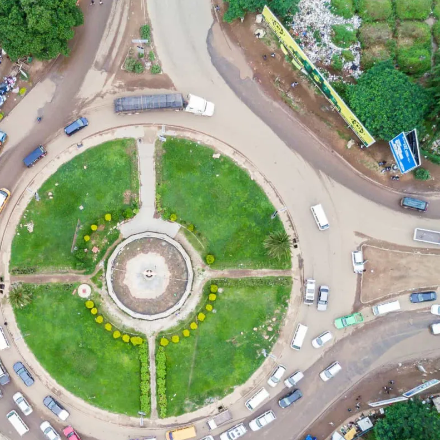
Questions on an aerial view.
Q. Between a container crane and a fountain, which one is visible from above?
fountain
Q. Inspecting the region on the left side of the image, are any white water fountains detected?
Yes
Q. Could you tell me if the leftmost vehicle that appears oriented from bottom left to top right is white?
No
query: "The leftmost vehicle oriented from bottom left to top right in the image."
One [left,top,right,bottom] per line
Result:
[22,145,48,169]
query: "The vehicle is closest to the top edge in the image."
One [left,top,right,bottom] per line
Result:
[116,93,215,115]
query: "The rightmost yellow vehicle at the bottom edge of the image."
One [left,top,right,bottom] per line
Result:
[166,425,197,440]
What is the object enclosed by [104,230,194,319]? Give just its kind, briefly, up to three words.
fountain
